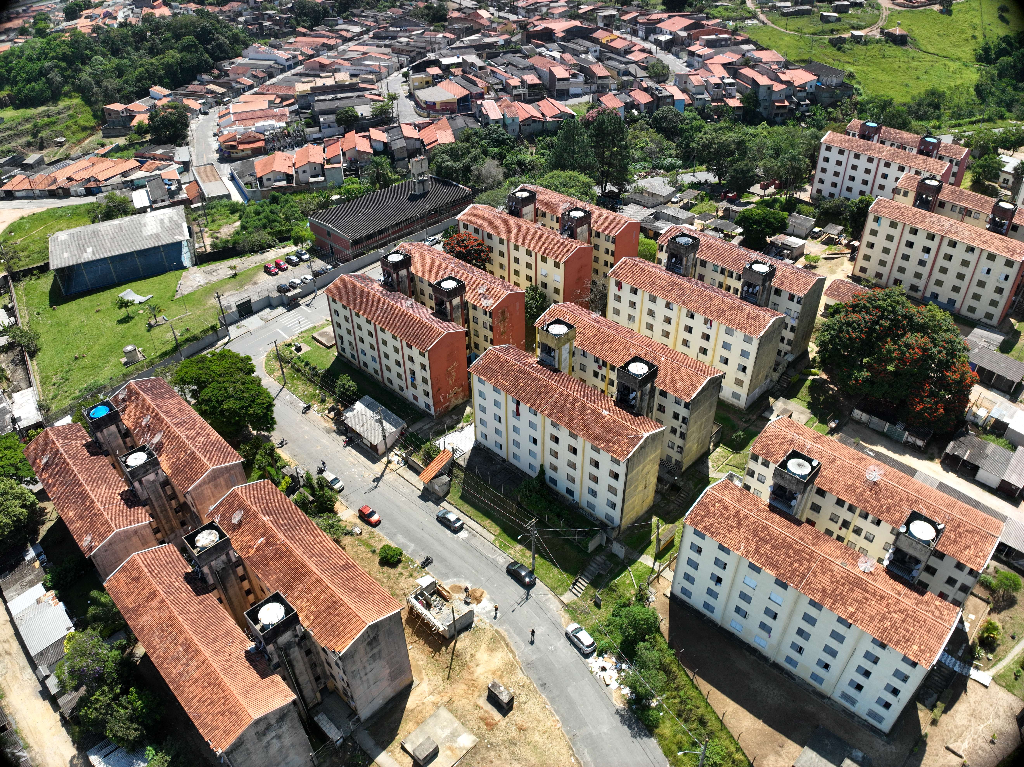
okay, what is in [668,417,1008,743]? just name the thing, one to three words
building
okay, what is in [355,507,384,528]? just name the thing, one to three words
car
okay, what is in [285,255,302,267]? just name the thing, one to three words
vehicle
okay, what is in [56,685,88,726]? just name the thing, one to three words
shed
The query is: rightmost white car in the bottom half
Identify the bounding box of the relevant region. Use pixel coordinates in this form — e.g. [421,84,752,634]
[565,622,597,653]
